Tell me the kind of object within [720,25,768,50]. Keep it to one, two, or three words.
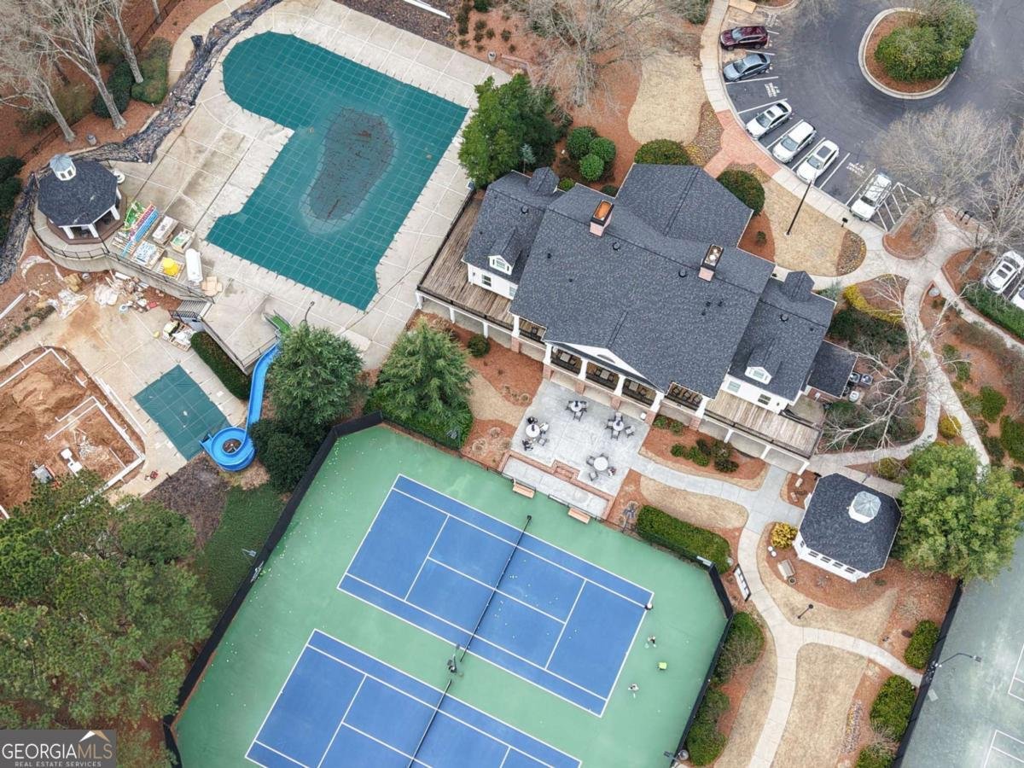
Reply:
car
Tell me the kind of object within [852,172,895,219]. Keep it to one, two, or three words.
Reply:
car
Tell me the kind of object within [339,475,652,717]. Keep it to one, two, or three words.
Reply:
tennis court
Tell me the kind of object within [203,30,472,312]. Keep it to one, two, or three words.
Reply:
swimming pool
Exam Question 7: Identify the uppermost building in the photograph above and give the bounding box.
[34,158,129,244]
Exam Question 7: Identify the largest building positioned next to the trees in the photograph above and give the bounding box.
[414,162,833,476]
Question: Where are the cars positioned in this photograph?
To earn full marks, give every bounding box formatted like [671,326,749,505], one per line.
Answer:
[720,25,768,50]
[747,103,793,140]
[981,248,1024,292]
[775,122,817,161]
[1007,278,1024,309]
[723,53,771,83]
[797,140,841,181]
[852,172,895,219]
